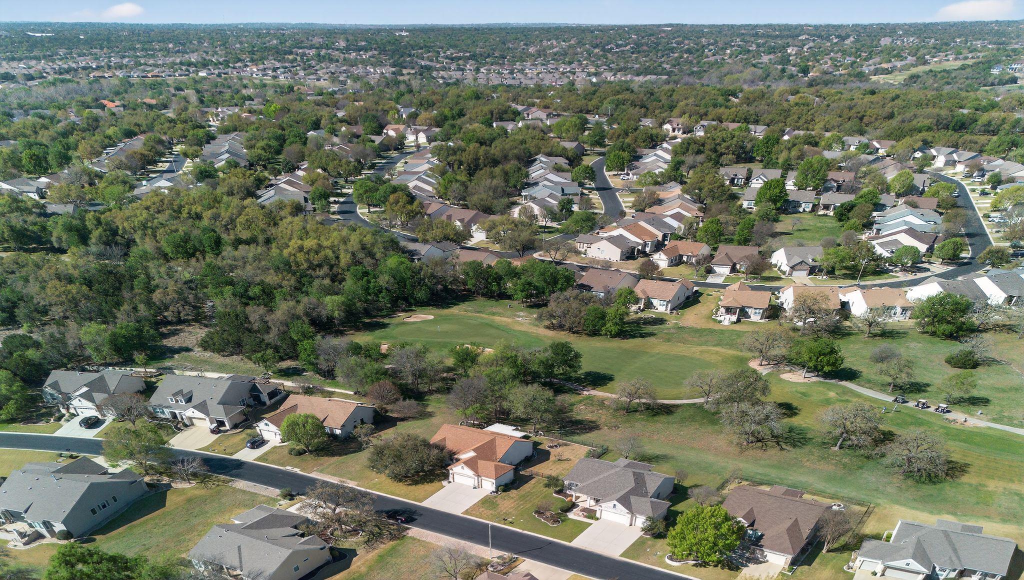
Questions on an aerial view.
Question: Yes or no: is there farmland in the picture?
No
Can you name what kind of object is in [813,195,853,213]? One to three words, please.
house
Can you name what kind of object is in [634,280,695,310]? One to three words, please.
house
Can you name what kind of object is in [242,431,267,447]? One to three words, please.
car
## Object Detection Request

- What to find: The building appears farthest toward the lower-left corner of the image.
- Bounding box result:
[0,455,153,535]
